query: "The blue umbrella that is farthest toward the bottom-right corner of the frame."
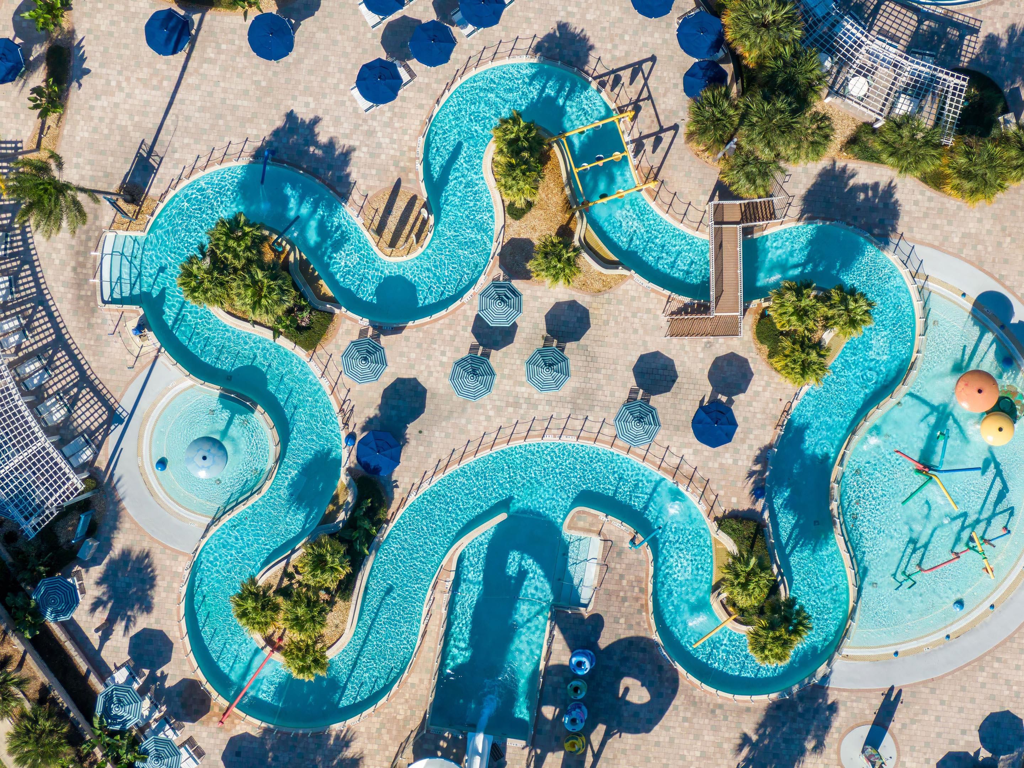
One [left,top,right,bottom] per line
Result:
[689,401,739,449]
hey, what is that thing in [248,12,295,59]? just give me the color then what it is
blue umbrella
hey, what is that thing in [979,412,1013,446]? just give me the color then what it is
yellow fountain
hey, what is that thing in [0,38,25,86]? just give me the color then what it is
blue umbrella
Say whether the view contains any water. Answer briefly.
Yes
